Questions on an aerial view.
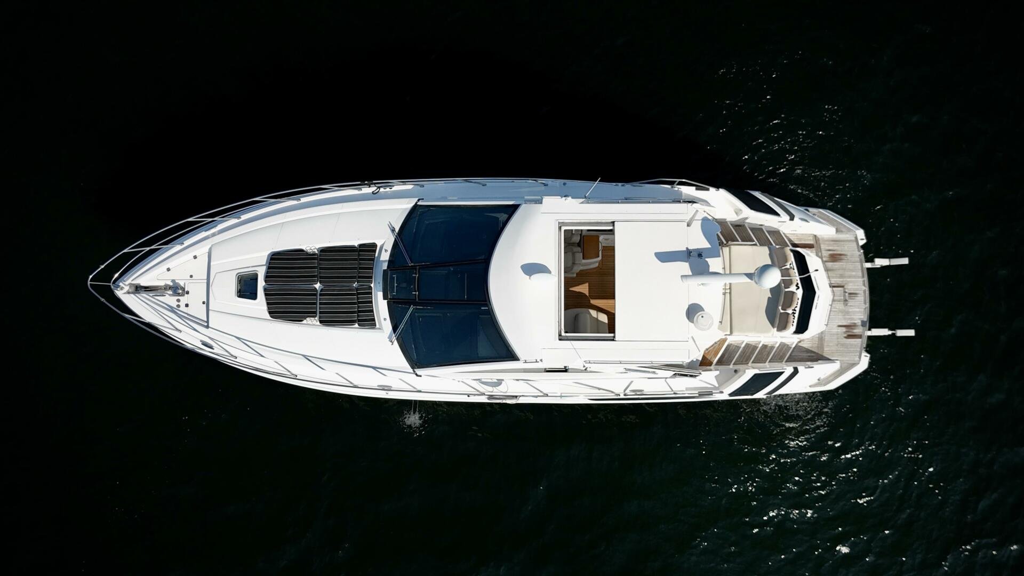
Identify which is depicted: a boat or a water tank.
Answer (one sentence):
The one in the frame is a boat.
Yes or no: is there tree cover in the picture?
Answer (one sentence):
No, the picture contains no tree cover.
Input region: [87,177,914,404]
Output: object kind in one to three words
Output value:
boat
